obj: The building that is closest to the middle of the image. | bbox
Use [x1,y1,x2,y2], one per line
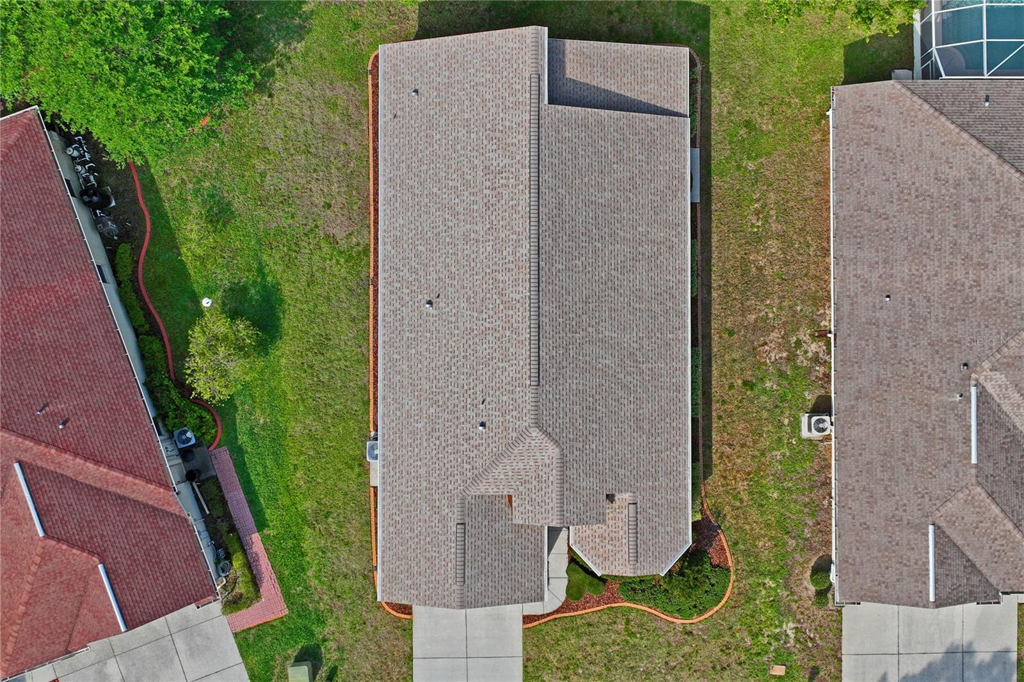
[377,25,693,610]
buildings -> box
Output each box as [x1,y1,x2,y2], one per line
[377,25,693,610]
[0,104,224,682]
[818,80,1024,609]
